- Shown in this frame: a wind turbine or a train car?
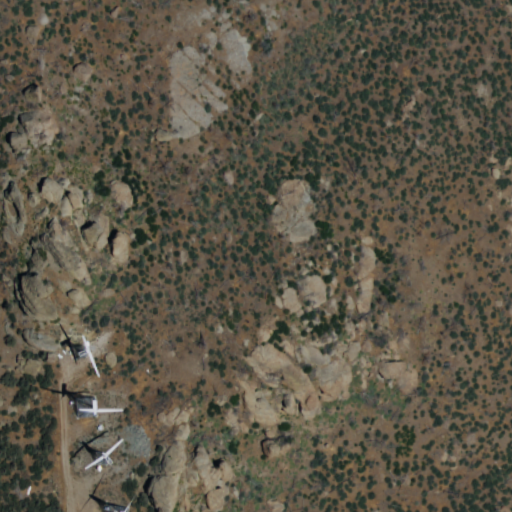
wind turbine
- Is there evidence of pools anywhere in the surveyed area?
No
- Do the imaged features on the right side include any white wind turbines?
No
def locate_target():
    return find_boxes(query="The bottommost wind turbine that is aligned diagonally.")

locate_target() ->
[85,439,124,470]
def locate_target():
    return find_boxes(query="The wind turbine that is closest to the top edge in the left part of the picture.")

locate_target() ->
[76,331,99,372]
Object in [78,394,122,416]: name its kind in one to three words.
wind turbine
